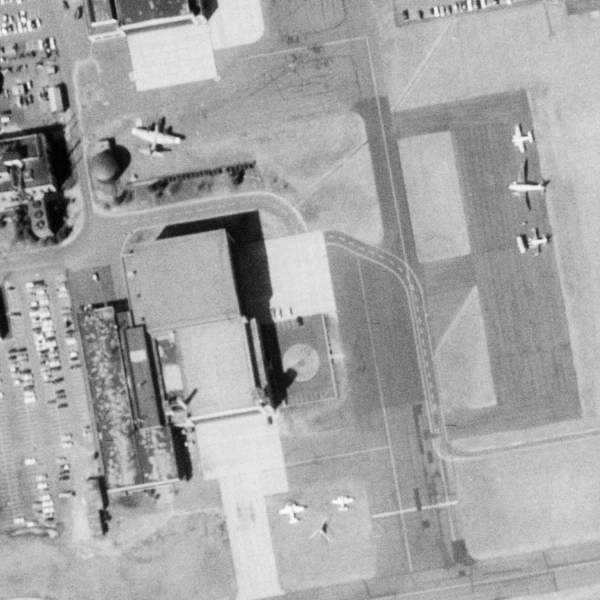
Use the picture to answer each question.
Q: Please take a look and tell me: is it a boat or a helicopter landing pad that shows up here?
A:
helicopter landing pad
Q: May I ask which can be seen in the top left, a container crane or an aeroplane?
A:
aeroplane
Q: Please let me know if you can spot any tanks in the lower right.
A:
No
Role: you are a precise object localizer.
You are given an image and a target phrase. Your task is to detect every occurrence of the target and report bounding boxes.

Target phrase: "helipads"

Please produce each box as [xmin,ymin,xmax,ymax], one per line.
[262,316,338,407]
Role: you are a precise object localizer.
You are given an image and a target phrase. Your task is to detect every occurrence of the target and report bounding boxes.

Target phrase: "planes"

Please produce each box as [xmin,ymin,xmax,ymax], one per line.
[526,229,544,255]
[278,503,304,522]
[512,125,531,152]
[507,161,543,213]
[131,122,182,156]
[332,495,353,510]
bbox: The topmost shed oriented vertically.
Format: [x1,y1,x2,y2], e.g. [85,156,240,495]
[49,87,66,115]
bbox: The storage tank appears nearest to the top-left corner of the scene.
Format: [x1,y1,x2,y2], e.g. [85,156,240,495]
[90,149,130,188]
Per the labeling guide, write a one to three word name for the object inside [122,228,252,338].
hangar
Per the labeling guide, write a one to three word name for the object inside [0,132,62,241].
building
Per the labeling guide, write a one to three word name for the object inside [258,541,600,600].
runway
